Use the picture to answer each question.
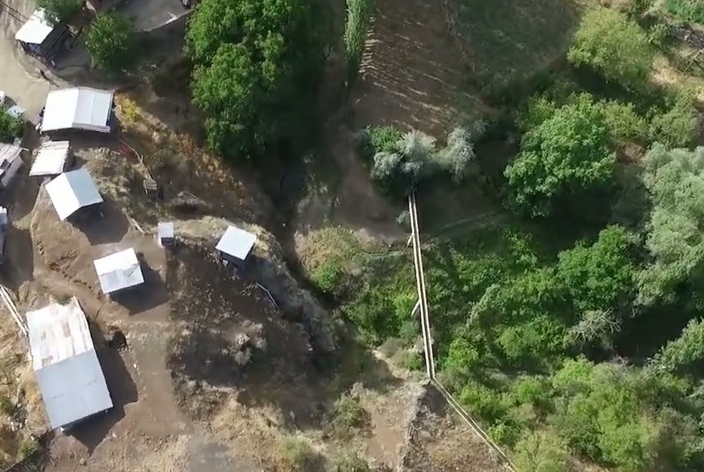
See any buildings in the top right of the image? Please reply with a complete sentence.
No, no building is visible in the top right of the image.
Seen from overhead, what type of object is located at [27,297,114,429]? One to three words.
barn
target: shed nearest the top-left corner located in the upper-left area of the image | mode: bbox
[17,7,62,56]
